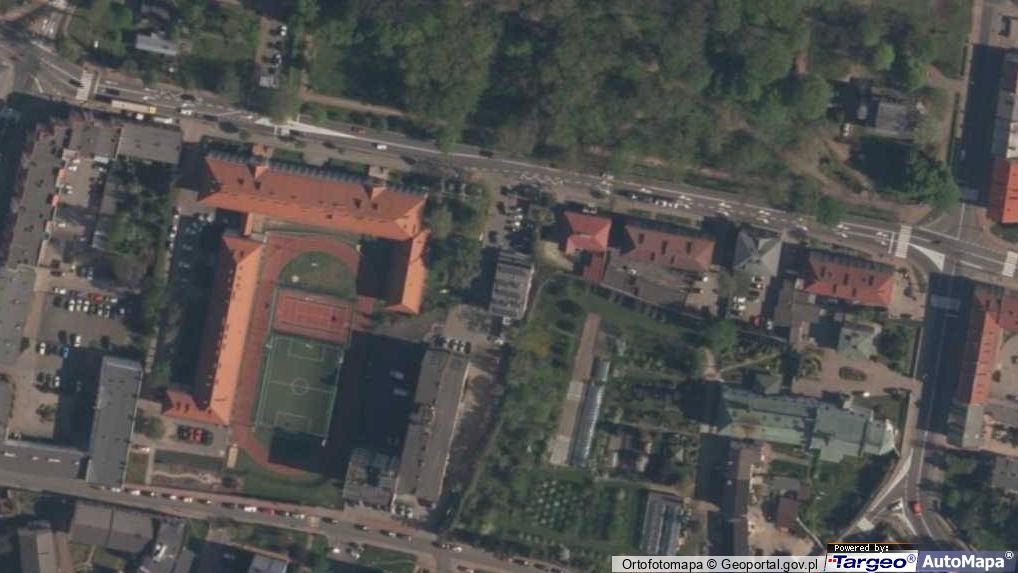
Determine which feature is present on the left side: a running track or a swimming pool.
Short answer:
running track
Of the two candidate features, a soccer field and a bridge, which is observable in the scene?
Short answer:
soccer field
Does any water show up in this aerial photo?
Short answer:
No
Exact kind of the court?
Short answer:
basketball court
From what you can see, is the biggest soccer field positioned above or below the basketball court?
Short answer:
below it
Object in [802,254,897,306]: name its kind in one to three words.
house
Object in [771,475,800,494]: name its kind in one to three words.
shed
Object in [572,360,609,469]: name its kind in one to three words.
greenhouse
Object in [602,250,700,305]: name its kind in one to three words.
building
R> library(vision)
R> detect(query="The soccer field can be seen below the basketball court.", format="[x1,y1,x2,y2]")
[254,334,345,439]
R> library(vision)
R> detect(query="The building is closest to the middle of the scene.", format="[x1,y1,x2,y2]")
[489,254,533,320]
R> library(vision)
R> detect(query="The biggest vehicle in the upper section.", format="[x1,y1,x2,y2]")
[110,99,157,114]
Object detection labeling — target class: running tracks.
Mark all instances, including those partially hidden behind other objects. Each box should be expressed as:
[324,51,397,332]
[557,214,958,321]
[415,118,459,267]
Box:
[230,235,376,478]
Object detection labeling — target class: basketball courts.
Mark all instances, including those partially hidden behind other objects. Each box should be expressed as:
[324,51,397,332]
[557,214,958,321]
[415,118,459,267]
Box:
[273,288,352,344]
